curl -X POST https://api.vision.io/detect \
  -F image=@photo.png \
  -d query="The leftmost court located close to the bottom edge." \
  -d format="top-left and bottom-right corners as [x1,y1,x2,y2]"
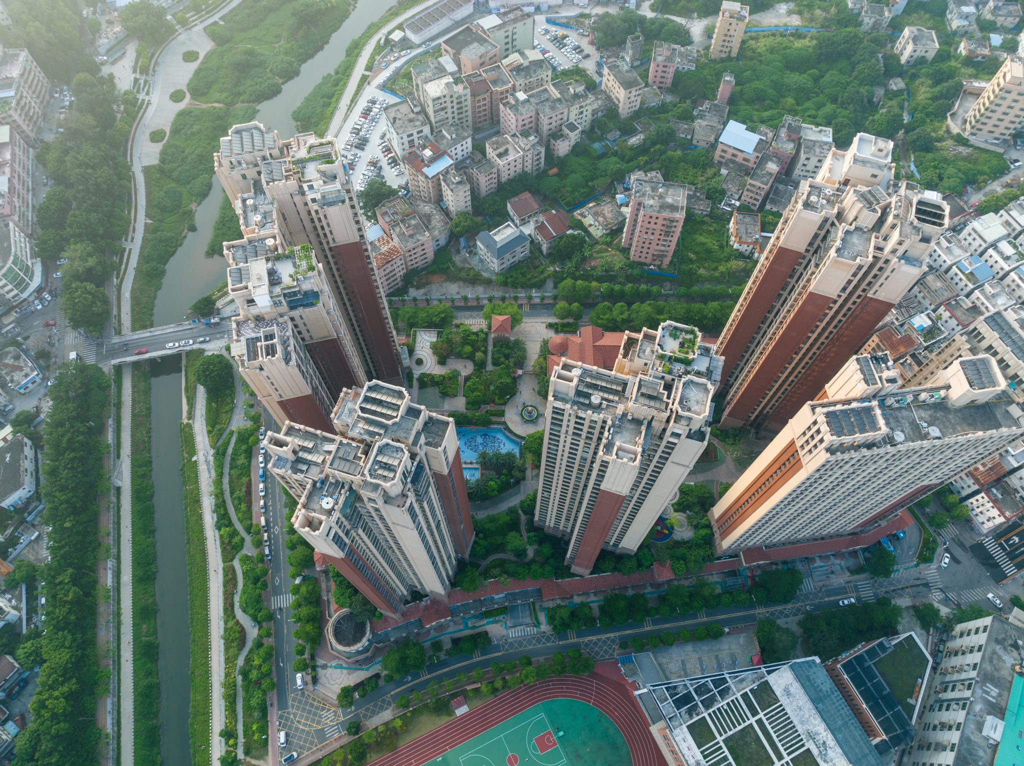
[453,704,574,766]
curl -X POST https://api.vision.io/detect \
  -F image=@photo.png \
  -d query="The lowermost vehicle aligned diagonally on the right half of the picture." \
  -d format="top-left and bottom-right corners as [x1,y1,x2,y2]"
[987,594,1002,608]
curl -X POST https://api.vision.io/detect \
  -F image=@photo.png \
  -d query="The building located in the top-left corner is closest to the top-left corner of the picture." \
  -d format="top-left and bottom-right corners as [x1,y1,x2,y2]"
[0,45,56,139]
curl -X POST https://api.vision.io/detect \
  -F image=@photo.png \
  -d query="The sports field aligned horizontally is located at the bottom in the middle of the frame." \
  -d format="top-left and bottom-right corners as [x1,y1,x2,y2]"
[419,699,634,766]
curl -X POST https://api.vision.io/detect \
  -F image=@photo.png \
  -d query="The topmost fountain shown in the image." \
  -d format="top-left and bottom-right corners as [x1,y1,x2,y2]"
[519,402,542,423]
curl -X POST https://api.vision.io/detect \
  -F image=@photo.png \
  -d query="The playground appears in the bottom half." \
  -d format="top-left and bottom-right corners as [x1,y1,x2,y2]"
[646,515,677,548]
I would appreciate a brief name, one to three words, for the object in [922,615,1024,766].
building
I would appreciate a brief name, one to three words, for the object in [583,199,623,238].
building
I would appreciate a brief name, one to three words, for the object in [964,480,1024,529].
house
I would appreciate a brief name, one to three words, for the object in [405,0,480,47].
shed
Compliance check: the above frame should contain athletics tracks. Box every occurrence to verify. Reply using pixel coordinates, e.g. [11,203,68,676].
[356,671,647,766]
